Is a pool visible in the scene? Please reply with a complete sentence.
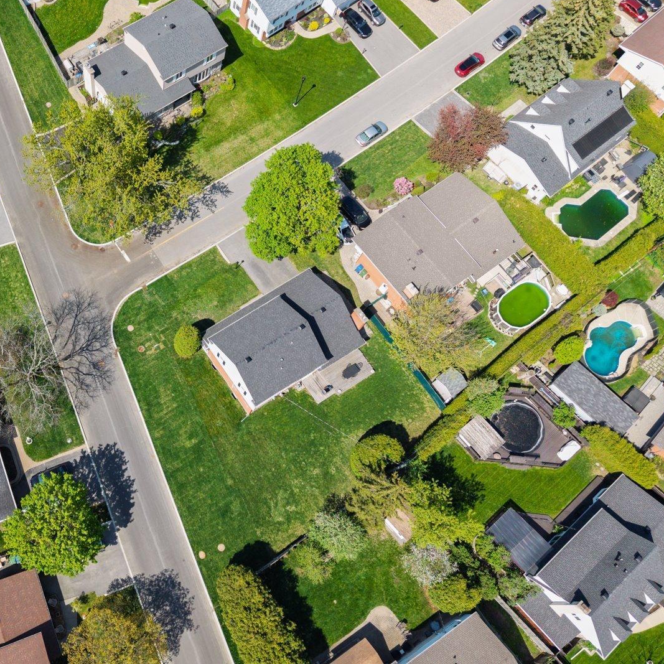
Yes, this view includes a pool.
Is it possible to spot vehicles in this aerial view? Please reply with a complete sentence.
Yes, the image includes a vehicle.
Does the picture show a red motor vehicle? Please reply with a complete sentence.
Yes, a red motor vehicle can be made out from above.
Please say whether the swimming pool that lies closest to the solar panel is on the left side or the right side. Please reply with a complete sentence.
It is on the right.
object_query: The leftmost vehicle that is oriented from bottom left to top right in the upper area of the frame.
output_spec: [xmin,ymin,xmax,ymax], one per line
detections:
[355,121,389,147]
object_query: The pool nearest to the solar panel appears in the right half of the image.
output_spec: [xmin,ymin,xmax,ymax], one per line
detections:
[554,188,632,240]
